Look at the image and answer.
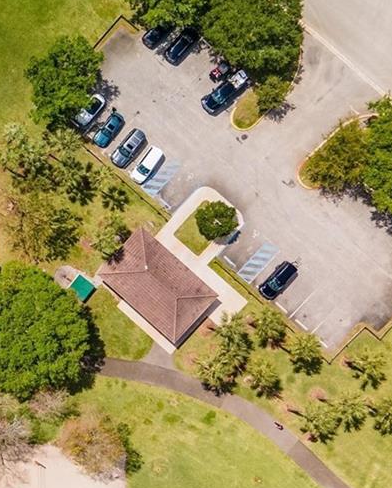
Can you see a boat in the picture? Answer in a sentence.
No, no boat is visible in the view.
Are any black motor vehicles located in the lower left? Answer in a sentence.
No, looking in the lower left, there is no black motor vehicle.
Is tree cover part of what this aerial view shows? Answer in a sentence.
Yes, tree cover shows up in the scene.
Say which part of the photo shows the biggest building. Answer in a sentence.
The biggest building is located in the center region of the scene.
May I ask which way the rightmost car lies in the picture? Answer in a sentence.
The rightmost car is laid out at an angle.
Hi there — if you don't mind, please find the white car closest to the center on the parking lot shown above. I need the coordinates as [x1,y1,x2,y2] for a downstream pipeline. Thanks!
[129,145,166,185]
